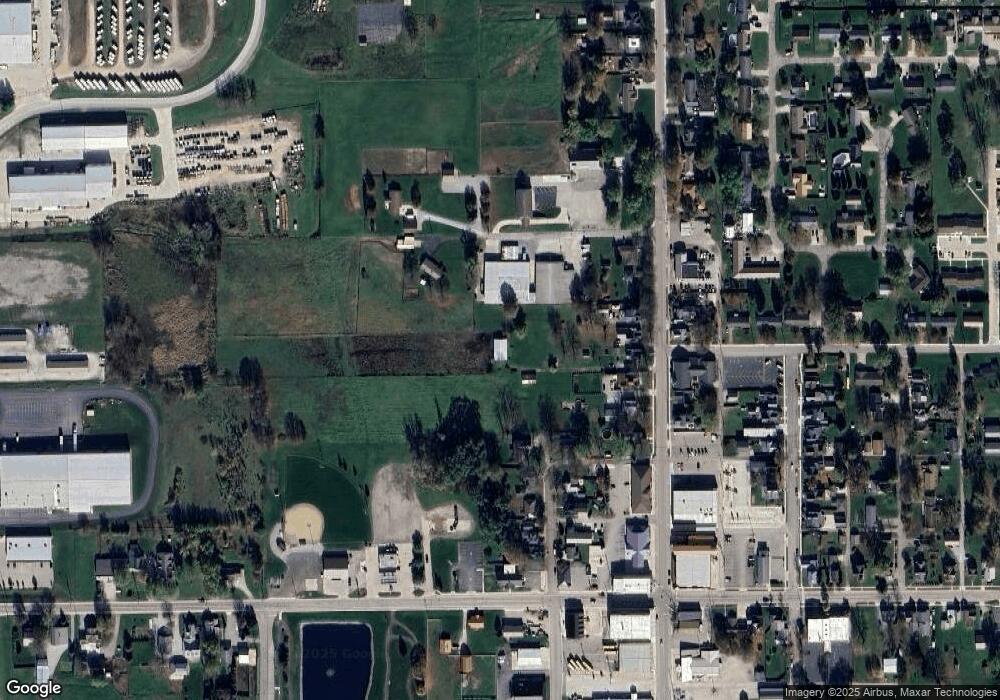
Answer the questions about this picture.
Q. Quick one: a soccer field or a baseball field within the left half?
baseball field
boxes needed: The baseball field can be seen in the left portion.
[277,456,372,547]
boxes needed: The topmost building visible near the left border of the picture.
[0,3,30,62]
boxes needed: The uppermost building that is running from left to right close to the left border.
[41,126,127,149]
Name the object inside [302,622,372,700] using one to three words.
pond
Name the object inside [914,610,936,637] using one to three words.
house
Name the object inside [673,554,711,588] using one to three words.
building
